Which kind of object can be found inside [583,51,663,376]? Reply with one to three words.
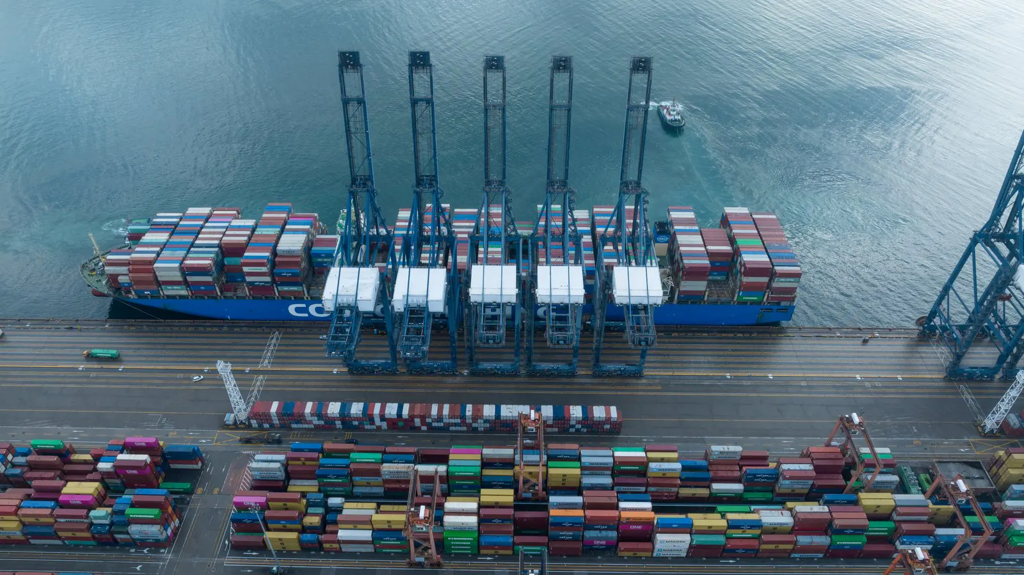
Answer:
container crane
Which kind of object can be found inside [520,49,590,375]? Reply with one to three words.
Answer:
container crane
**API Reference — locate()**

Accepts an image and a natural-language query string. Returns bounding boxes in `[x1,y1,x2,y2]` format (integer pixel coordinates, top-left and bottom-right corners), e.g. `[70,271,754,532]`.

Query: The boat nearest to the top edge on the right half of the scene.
[655,95,686,125]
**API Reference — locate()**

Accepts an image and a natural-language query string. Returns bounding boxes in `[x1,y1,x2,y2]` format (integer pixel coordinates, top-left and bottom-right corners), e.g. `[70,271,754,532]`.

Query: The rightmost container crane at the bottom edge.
[922,469,999,572]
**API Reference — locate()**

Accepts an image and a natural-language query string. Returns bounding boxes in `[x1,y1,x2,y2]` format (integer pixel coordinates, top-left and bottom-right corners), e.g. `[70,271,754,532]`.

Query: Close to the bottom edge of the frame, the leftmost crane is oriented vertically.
[408,464,447,567]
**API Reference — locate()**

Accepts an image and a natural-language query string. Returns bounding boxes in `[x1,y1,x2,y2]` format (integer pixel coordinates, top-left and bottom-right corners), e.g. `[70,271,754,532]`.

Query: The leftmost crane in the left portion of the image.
[319,47,401,373]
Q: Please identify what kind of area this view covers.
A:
port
